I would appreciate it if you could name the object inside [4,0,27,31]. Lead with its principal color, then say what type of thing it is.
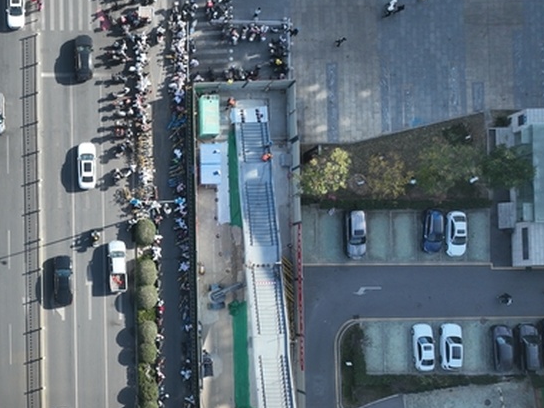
white car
